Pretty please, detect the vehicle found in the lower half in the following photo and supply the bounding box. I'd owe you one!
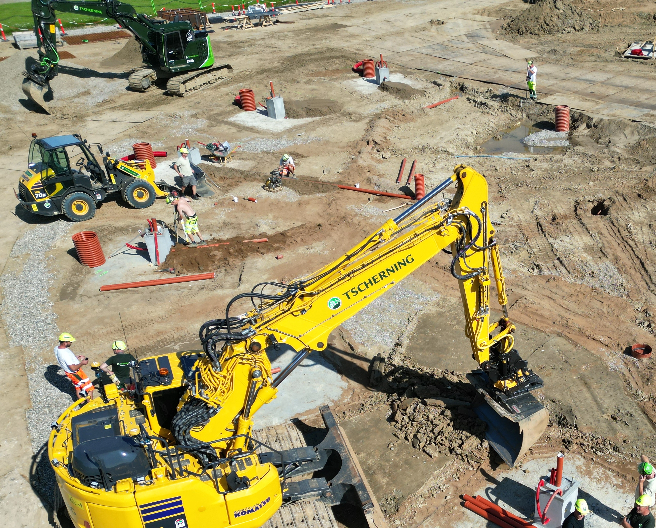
[43,161,554,528]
